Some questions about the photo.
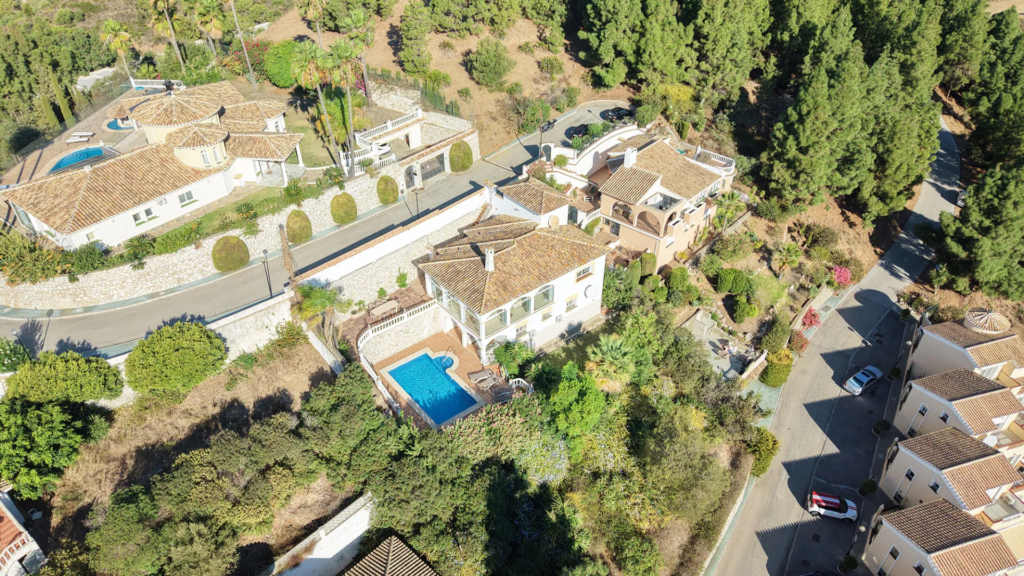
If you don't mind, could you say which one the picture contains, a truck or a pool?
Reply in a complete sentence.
Looking from above, you can make out a pool.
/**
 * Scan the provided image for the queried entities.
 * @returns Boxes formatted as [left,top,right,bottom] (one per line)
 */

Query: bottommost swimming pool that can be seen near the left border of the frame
[44,142,114,174]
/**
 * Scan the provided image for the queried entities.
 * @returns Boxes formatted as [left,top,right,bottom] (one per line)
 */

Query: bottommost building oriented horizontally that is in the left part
[344,535,436,576]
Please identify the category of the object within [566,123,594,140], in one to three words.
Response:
car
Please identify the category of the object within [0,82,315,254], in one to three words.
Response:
house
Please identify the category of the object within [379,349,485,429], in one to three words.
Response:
swimming pool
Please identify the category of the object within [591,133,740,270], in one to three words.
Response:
house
